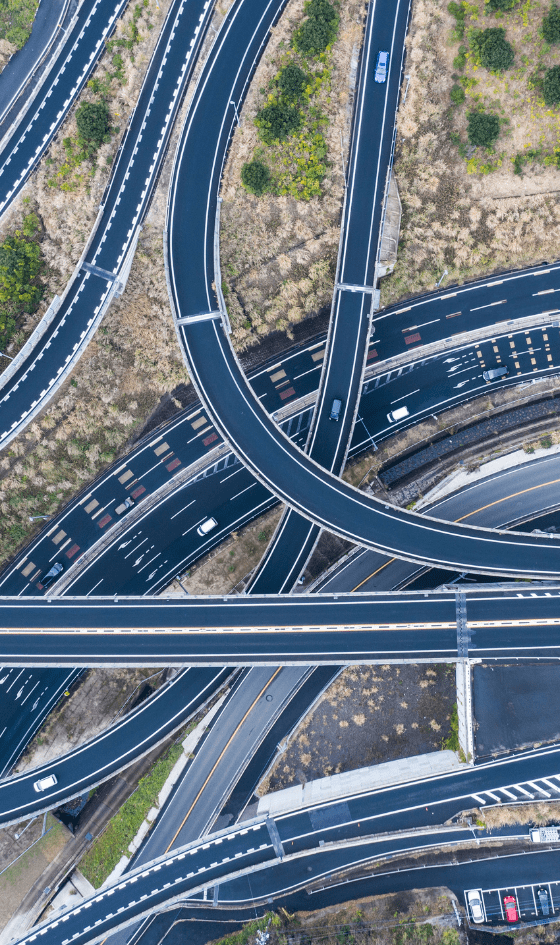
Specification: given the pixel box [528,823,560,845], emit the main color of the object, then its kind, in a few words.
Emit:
white truck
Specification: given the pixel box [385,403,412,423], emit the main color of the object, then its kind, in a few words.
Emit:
white vehicle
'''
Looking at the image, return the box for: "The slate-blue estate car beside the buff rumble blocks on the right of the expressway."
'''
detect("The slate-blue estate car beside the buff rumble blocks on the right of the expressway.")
[482,365,509,383]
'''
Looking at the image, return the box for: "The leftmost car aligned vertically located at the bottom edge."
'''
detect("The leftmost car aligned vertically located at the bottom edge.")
[467,888,483,924]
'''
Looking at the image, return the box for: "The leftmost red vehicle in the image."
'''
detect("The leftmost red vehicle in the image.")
[503,895,518,923]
